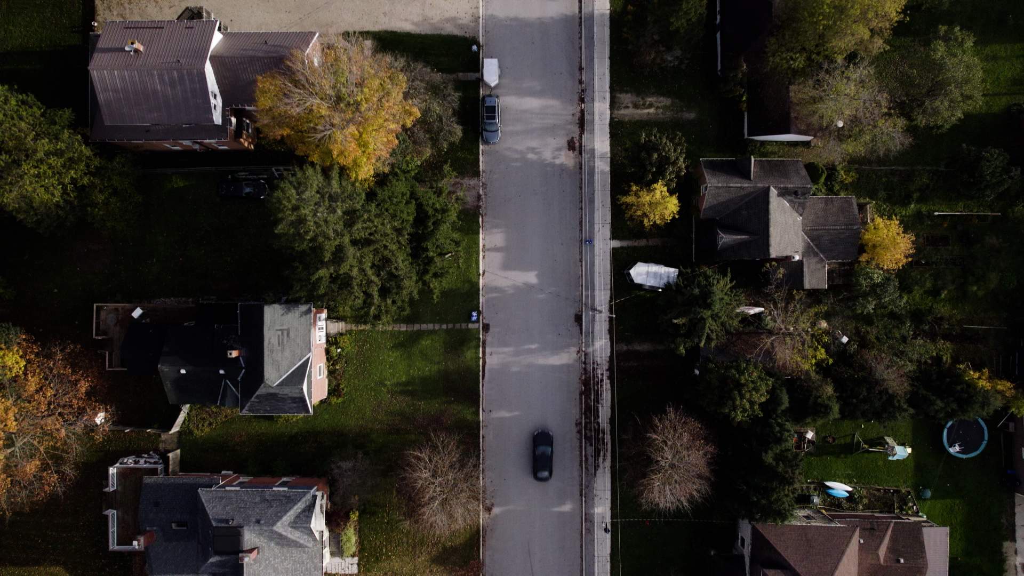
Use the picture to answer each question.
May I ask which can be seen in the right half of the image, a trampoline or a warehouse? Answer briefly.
trampoline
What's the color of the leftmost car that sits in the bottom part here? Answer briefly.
black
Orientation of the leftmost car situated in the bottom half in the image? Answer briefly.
up and down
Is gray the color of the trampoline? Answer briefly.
No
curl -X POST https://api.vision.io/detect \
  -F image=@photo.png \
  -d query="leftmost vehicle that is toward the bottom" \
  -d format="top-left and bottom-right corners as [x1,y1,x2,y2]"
[532,431,555,484]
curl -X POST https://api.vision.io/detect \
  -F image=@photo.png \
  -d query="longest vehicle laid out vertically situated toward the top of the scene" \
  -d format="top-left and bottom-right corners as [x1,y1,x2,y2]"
[480,92,503,144]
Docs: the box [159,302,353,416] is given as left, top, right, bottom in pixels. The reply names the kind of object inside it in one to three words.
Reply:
house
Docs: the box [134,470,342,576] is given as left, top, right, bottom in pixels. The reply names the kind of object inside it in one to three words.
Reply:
house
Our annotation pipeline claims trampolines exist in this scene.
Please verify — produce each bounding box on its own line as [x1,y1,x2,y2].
[939,416,987,460]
